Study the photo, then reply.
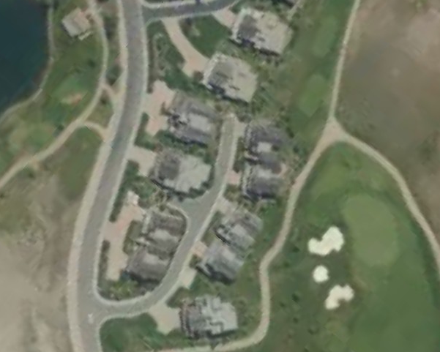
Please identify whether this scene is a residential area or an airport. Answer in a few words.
residential area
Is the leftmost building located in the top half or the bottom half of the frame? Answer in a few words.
top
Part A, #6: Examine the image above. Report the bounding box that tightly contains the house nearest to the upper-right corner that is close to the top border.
[232,8,291,55]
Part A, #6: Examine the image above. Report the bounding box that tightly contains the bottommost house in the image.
[181,296,240,337]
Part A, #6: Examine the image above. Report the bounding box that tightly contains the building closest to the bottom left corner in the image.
[126,235,173,278]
